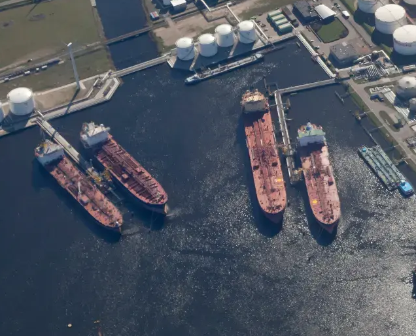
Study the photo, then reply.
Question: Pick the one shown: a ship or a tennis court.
ship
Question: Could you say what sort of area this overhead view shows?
industrial area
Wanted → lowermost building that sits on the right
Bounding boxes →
[328,41,358,68]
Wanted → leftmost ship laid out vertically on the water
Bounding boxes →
[239,87,286,224]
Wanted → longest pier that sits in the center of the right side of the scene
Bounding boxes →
[273,76,338,190]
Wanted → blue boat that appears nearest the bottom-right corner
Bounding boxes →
[397,179,416,200]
